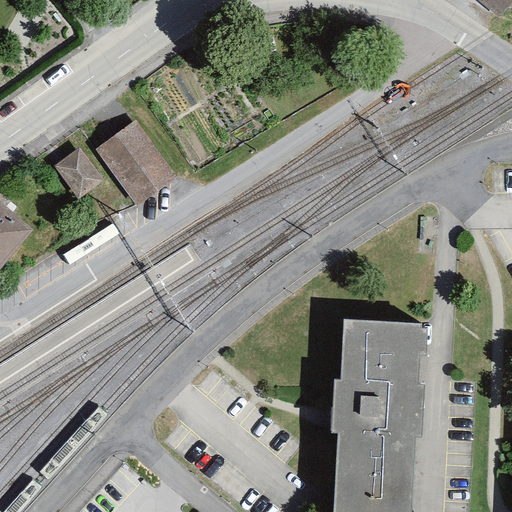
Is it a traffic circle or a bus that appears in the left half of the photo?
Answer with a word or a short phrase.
bus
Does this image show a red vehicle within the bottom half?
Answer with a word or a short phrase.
Yes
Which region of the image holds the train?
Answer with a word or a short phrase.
bottom left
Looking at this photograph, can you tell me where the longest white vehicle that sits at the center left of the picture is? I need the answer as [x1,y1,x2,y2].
[64,222,121,264]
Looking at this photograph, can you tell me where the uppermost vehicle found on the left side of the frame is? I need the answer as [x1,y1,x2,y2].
[46,64,71,85]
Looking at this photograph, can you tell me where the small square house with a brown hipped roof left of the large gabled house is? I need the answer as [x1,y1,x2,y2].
[54,148,104,198]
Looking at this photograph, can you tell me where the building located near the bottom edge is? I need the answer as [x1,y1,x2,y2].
[331,320,429,512]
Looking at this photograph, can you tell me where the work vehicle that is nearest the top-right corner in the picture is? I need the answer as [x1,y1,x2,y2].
[384,83,412,104]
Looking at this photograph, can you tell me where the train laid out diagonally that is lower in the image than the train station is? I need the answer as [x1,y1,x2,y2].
[8,405,107,512]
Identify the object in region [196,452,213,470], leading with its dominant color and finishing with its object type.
red car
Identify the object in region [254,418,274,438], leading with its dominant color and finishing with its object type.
white car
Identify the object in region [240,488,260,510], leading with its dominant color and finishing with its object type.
white car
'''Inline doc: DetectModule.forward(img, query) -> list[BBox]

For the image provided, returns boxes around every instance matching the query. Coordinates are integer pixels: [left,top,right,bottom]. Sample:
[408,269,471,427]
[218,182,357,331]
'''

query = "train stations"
[0,243,200,388]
